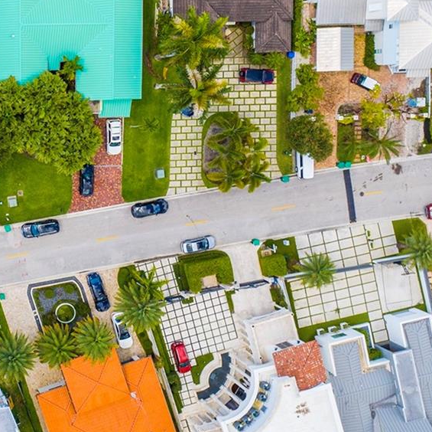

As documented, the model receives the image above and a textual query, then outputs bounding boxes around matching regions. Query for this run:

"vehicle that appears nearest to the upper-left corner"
[107,118,124,156]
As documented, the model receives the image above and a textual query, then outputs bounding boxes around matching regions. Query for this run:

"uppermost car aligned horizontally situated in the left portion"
[130,200,171,219]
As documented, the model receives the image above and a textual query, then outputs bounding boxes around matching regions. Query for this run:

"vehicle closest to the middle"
[181,236,218,255]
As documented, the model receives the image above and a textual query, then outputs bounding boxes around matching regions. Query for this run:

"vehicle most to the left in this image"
[22,220,61,241]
